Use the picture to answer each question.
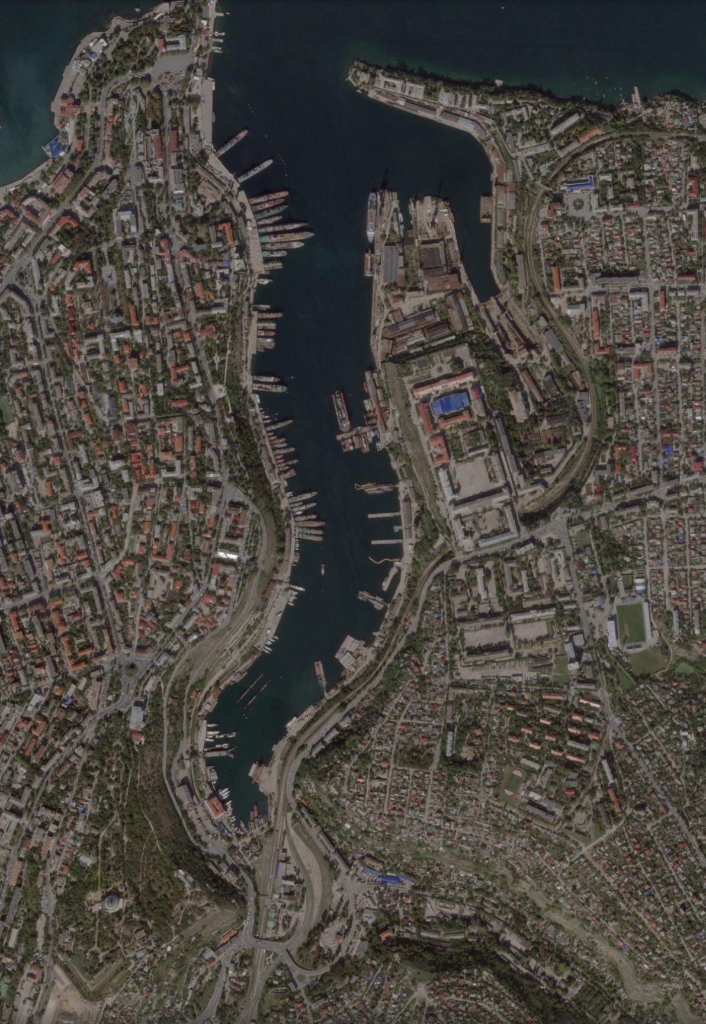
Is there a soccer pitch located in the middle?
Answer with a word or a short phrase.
No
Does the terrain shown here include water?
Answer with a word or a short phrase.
Yes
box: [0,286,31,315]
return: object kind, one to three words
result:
building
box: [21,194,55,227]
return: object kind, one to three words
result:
building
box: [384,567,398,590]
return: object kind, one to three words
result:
ship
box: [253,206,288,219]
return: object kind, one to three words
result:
ship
